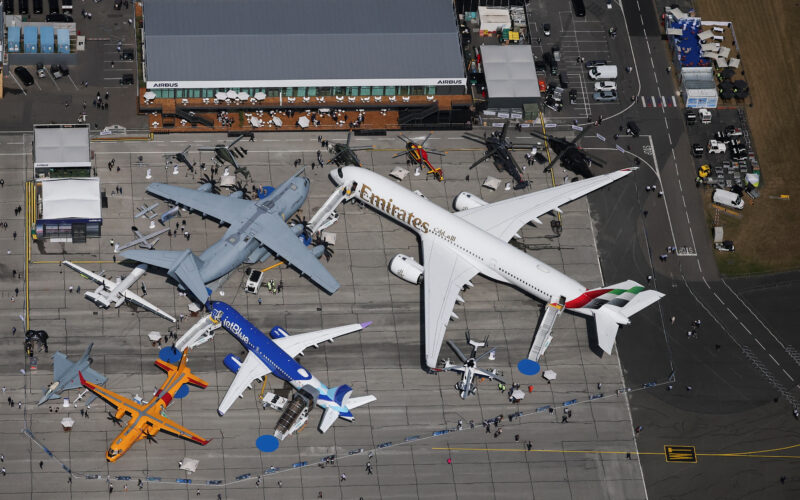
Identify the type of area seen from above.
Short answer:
airport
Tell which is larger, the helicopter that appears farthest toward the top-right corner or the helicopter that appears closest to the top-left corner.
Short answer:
the helicopter that appears farthest toward the top-right corner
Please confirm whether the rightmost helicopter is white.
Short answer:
No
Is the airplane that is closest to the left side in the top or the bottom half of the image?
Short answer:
bottom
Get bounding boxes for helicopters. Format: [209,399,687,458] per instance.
[392,134,445,180]
[320,131,377,177]
[434,331,505,398]
[197,135,259,184]
[534,127,608,188]
[464,120,542,187]
[163,146,198,176]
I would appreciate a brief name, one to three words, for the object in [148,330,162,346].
umbrella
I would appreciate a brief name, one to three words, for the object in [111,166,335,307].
airplane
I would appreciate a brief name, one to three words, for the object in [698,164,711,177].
vehicle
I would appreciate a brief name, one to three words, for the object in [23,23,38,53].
building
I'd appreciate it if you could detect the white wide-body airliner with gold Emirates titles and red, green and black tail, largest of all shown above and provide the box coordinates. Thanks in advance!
[329,169,668,373]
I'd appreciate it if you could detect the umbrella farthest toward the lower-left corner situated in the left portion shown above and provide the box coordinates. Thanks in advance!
[60,416,76,432]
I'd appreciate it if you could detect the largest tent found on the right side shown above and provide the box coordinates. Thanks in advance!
[479,45,541,108]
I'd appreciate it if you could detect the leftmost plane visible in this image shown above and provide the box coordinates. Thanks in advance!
[34,343,112,408]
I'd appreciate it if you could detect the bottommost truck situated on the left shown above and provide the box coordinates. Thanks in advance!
[259,388,288,412]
